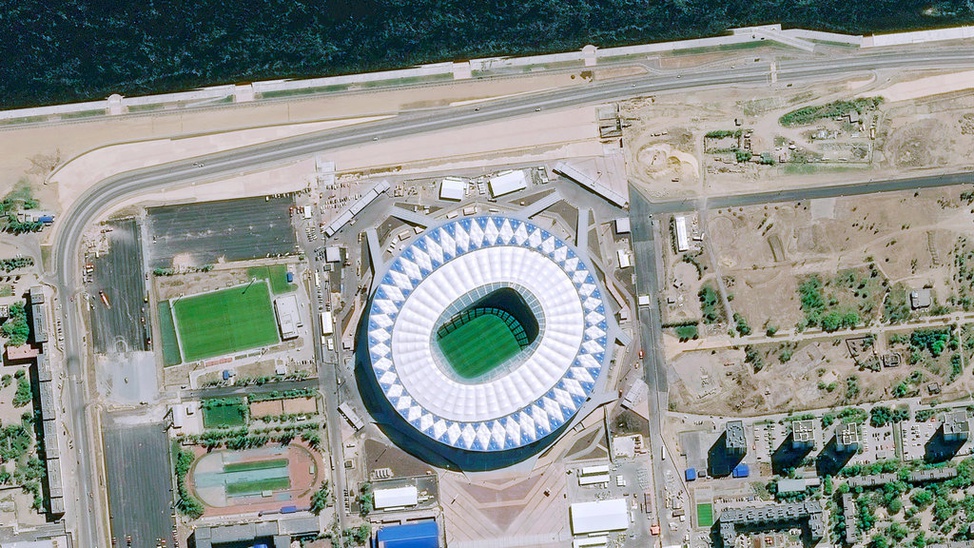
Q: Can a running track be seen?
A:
Yes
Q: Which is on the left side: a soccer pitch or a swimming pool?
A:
soccer pitch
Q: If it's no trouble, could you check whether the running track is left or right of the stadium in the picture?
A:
to the left of it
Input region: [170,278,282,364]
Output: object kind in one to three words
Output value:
soccer field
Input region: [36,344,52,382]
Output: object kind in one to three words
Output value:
building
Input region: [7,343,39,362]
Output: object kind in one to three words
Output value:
house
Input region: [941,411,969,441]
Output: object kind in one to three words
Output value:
building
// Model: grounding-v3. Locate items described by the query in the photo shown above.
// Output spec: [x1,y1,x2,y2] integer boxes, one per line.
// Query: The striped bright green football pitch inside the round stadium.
[435,292,540,383]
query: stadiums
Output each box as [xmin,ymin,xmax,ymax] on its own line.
[356,213,618,481]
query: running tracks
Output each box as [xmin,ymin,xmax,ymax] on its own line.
[185,441,326,518]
